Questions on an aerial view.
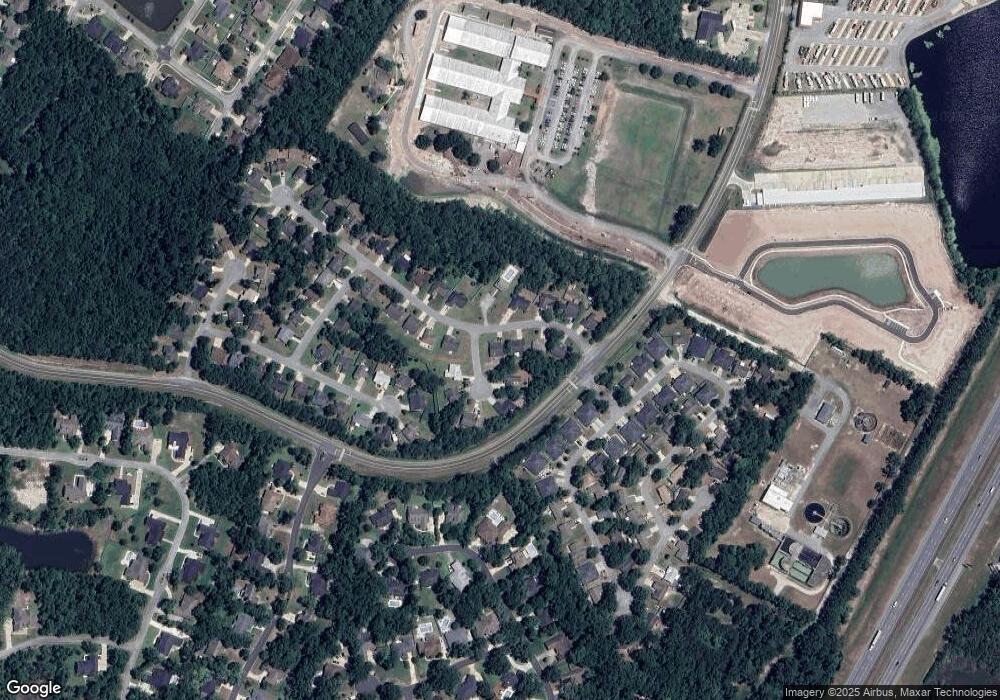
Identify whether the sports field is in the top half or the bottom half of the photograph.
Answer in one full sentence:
The sports field is in the top half of the image.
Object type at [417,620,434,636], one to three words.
swimming pool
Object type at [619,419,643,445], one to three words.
house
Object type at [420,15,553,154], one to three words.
building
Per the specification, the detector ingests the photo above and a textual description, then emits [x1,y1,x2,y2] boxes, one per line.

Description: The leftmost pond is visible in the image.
[0,528,92,570]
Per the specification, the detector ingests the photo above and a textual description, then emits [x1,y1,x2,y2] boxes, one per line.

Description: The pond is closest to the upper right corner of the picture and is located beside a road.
[758,254,904,307]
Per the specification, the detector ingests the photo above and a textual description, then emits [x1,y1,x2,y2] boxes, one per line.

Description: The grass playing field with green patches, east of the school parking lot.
[592,87,683,230]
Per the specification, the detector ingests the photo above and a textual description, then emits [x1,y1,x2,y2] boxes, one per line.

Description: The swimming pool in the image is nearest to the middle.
[501,264,519,282]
